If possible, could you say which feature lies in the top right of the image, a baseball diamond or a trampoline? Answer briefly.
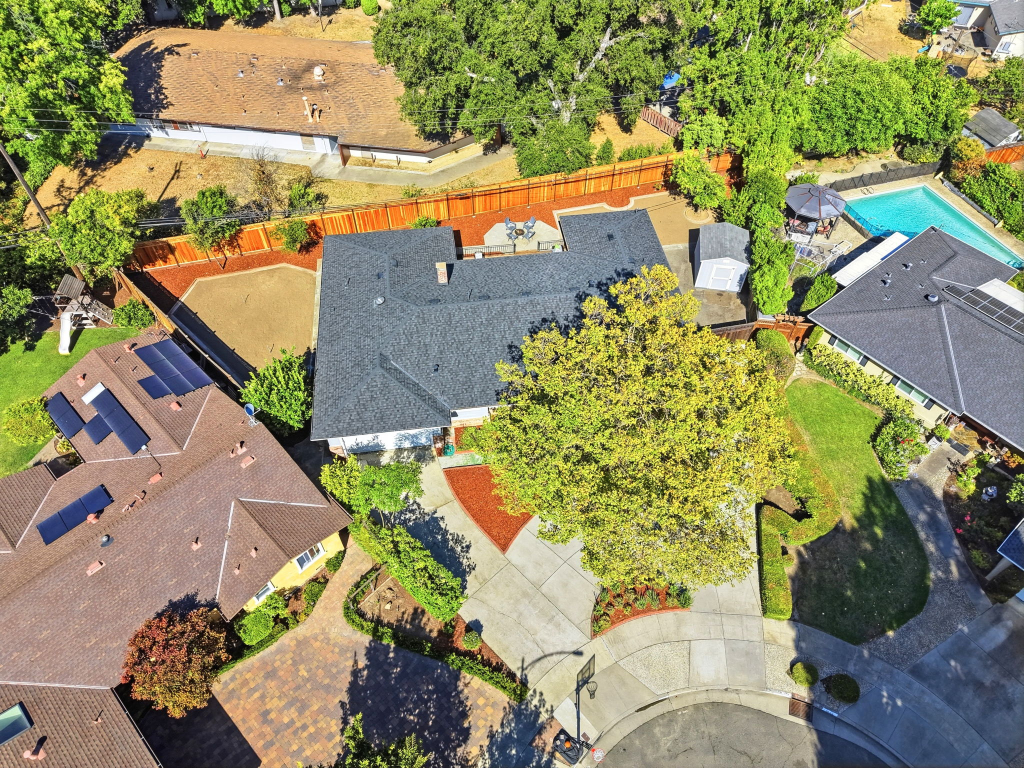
trampoline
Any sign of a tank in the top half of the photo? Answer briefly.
No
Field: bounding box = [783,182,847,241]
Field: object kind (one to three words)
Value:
gazebo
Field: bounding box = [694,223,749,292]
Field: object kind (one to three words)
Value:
shed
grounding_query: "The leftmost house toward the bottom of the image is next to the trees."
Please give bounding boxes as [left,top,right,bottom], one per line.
[0,332,357,768]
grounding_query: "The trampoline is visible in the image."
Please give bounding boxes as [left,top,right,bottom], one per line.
[938,36,990,79]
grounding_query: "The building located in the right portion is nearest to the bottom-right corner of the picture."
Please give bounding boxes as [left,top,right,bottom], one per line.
[989,514,1024,600]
